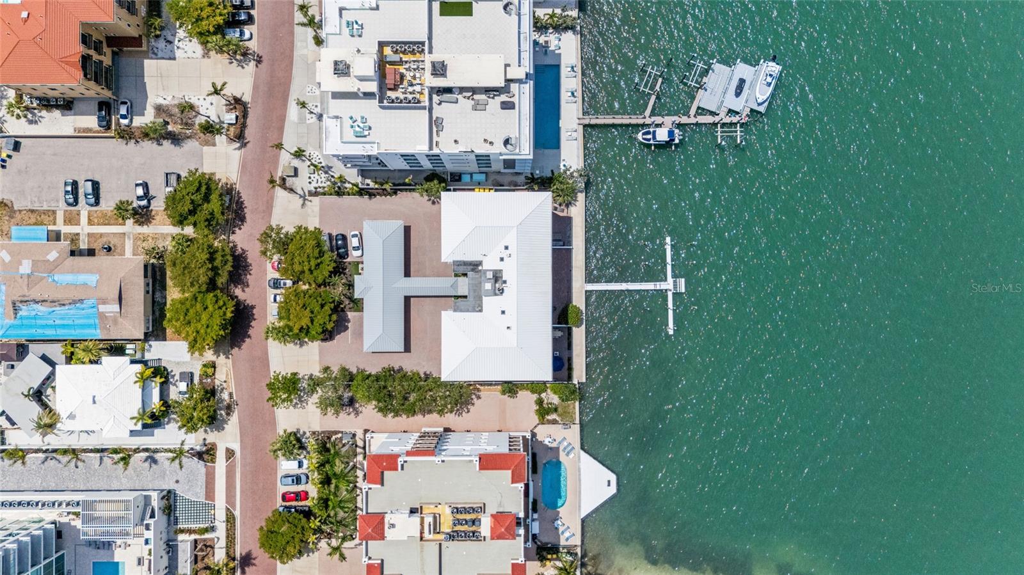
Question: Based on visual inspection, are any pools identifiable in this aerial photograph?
Yes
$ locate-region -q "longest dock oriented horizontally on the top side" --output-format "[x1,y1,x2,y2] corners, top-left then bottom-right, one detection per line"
[582,76,750,127]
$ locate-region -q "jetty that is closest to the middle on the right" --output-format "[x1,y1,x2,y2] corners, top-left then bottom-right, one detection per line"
[585,237,685,334]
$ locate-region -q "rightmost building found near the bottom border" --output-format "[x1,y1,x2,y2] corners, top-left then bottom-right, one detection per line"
[358,426,531,575]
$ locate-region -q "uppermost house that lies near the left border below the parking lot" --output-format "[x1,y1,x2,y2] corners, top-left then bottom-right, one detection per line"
[0,241,150,339]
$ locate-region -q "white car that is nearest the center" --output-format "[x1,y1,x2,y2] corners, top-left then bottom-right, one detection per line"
[350,230,363,258]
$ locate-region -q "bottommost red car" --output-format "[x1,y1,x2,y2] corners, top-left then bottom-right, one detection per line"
[282,490,310,503]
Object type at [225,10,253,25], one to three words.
car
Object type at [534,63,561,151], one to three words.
swimming pool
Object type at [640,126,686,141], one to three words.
boat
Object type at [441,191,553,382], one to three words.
house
